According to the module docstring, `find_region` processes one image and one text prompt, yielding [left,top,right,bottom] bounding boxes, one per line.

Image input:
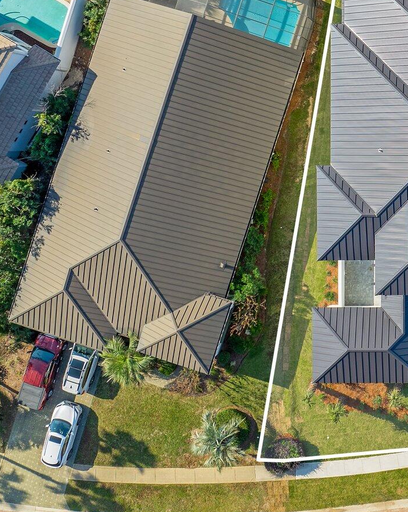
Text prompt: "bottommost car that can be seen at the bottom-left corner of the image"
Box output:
[43,399,87,469]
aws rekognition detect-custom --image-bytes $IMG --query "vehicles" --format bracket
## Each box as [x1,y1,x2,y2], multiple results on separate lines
[16,329,68,411]
[43,399,87,469]
[64,337,104,398]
